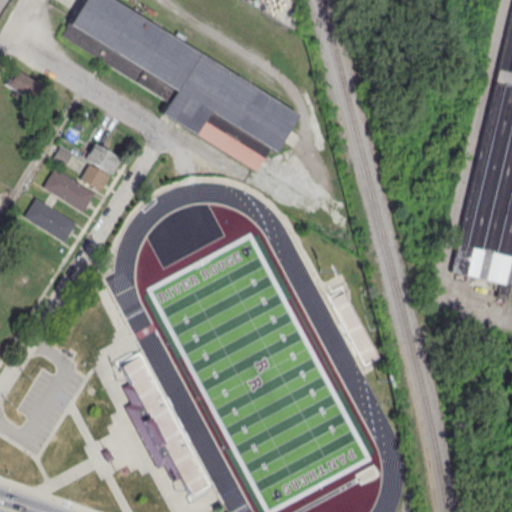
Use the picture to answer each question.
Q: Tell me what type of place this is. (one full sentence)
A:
It's a sports ground.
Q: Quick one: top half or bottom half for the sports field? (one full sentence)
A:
Seen from above, the sports field lies in the bottom half of the view.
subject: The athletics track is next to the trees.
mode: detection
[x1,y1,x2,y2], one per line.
[106,184,402,512]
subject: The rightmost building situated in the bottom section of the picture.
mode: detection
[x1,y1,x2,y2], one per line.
[123,382,179,481]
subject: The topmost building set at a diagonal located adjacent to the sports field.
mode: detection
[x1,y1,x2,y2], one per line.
[63,0,298,172]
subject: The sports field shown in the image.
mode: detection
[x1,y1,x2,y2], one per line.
[144,233,374,512]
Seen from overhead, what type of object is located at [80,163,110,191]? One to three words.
house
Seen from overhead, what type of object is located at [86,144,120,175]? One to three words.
house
